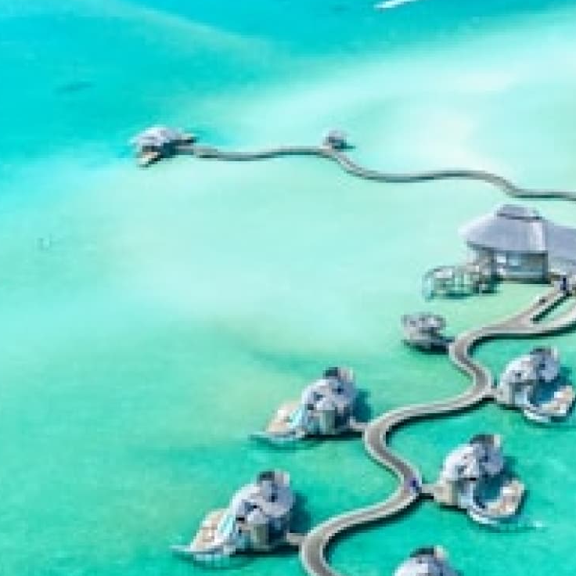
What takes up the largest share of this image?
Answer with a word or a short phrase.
water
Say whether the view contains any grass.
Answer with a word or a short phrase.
No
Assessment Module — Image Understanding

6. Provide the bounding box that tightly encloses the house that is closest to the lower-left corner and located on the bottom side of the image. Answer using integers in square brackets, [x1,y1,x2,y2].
[178,474,303,571]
